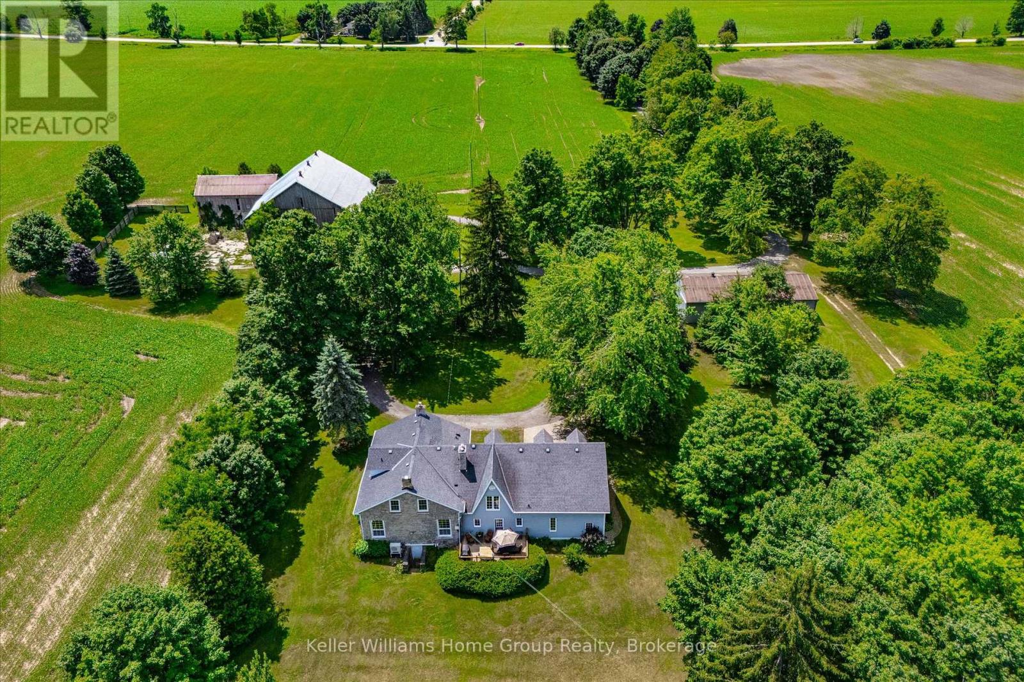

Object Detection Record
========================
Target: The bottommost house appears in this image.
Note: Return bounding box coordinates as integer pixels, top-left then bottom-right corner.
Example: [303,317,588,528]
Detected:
[352,404,611,563]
